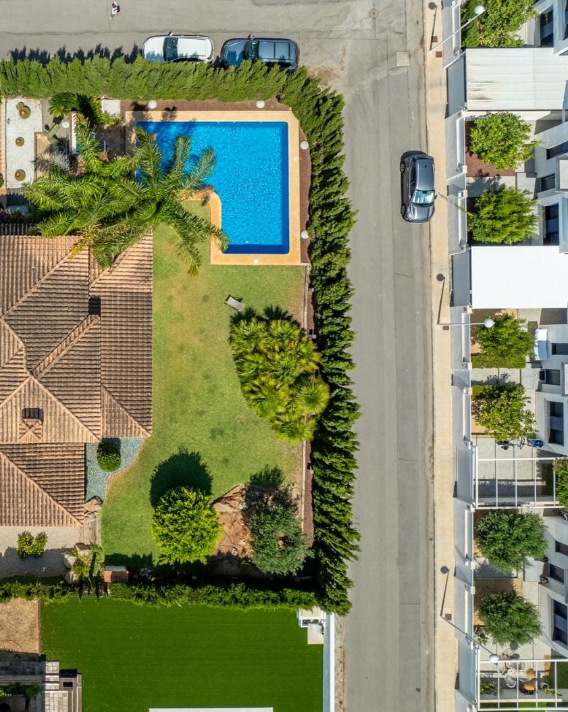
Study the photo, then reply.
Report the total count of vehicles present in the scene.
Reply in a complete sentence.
My tally gives 3 vehicles in this view.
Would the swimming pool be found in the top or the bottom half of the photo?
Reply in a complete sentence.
It is in the top half that the swimming pool appears.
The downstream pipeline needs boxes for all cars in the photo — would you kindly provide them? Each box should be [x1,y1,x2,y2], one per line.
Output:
[139,31,213,67]
[217,33,298,73]
[398,153,438,224]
